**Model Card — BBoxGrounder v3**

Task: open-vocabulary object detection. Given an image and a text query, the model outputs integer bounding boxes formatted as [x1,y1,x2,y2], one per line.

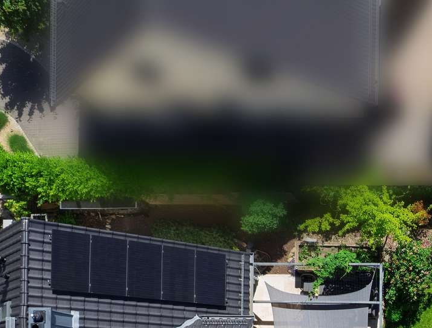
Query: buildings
[51,0,380,136]
[0,215,260,328]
